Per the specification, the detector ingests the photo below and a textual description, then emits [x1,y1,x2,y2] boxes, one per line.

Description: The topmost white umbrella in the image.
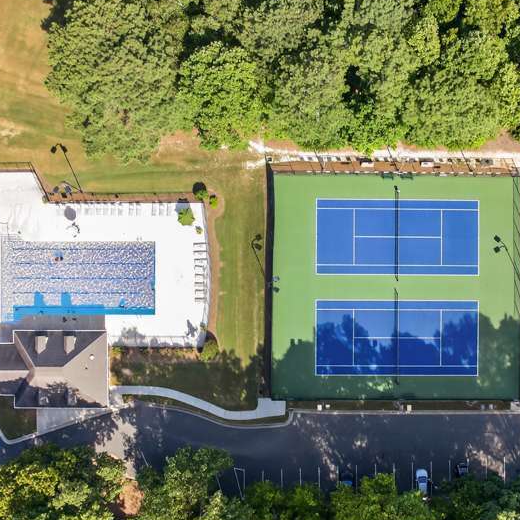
[64,221,78,235]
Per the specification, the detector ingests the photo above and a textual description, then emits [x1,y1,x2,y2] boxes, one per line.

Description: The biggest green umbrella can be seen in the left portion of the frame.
[175,209,192,226]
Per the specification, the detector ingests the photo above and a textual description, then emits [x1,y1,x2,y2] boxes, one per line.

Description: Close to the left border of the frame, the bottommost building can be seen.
[0,330,110,408]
